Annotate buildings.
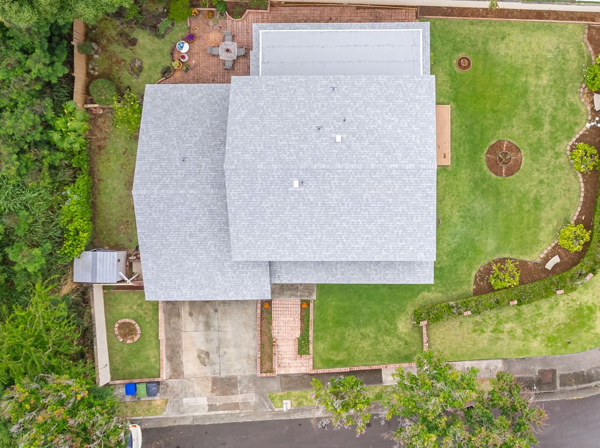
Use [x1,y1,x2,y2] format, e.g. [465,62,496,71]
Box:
[132,22,437,301]
[74,251,131,283]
